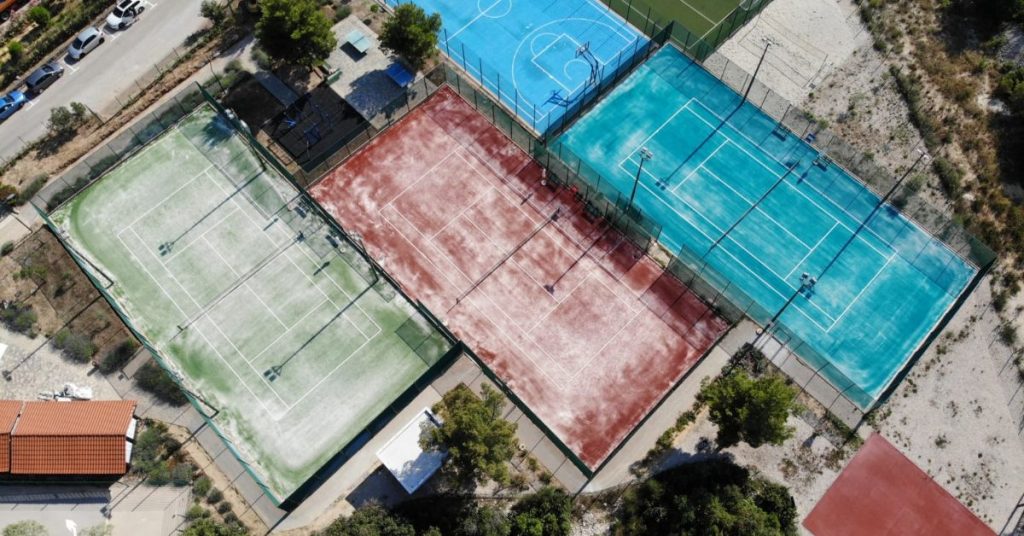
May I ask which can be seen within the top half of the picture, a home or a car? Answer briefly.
car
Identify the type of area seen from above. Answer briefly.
sports ground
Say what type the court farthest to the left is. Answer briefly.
tennis court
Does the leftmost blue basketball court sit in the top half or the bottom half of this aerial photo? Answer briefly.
top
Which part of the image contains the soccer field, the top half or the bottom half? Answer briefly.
top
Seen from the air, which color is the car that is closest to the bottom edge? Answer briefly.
blue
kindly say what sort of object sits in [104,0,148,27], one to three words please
car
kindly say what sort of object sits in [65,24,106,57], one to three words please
car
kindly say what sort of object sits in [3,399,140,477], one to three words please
house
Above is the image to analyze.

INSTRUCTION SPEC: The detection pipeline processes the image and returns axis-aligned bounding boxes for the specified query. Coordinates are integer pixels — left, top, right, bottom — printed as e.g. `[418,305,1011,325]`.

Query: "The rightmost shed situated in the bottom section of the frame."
[377,409,445,493]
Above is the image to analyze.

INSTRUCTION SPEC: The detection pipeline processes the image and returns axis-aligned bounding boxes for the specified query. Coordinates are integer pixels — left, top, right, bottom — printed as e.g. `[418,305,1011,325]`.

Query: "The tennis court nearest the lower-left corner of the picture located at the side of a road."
[43,103,446,493]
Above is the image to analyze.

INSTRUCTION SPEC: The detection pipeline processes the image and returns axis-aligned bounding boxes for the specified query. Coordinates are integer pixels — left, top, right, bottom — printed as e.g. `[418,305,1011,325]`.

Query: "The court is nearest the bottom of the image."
[800,431,1001,536]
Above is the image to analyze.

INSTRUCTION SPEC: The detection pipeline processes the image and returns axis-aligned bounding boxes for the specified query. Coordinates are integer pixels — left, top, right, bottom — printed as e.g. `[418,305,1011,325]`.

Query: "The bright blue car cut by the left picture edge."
[0,86,26,120]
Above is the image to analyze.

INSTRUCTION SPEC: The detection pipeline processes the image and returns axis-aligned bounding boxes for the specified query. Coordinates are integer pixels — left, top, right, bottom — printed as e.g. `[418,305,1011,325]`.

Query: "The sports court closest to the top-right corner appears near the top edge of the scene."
[714,0,863,97]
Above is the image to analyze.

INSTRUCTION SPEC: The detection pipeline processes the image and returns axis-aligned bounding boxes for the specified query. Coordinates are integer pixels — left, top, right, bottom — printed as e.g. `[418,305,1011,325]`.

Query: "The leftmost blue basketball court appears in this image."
[377,0,650,136]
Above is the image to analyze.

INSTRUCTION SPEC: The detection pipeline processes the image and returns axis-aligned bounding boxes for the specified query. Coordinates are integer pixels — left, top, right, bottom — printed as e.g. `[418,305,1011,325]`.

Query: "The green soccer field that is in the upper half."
[610,0,768,63]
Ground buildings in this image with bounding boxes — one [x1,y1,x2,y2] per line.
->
[377,409,445,493]
[3,399,140,477]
